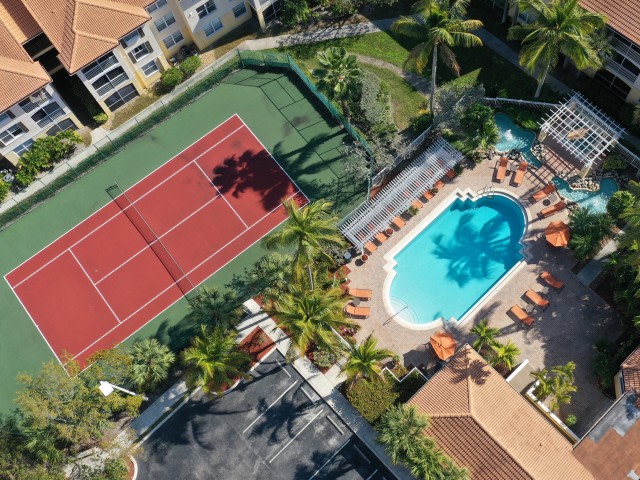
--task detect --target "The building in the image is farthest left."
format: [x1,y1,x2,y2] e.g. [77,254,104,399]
[0,0,304,183]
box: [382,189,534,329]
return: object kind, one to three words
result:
swimming pool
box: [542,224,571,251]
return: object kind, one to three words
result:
umbrella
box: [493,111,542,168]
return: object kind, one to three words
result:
swimming pool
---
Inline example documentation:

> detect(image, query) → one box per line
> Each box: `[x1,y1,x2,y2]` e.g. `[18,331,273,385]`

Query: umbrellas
[426,331,459,364]
[542,224,571,251]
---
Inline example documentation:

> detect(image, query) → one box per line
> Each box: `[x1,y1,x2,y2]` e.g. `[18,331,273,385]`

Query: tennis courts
[0,66,372,455]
